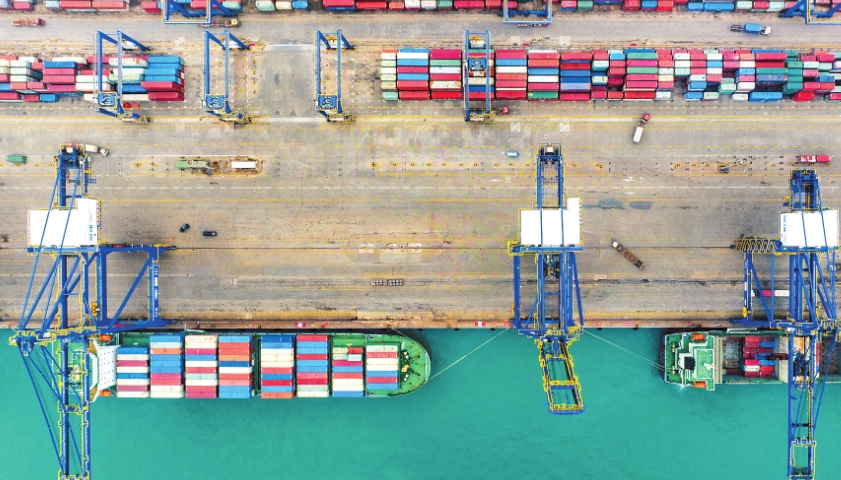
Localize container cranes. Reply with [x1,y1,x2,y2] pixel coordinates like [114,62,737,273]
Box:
[499,0,554,25]
[200,30,256,122]
[506,147,583,417]
[782,0,841,25]
[311,30,361,122]
[459,30,499,122]
[8,145,173,480]
[92,30,158,122]
[729,169,841,480]
[162,0,237,25]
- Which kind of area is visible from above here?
port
